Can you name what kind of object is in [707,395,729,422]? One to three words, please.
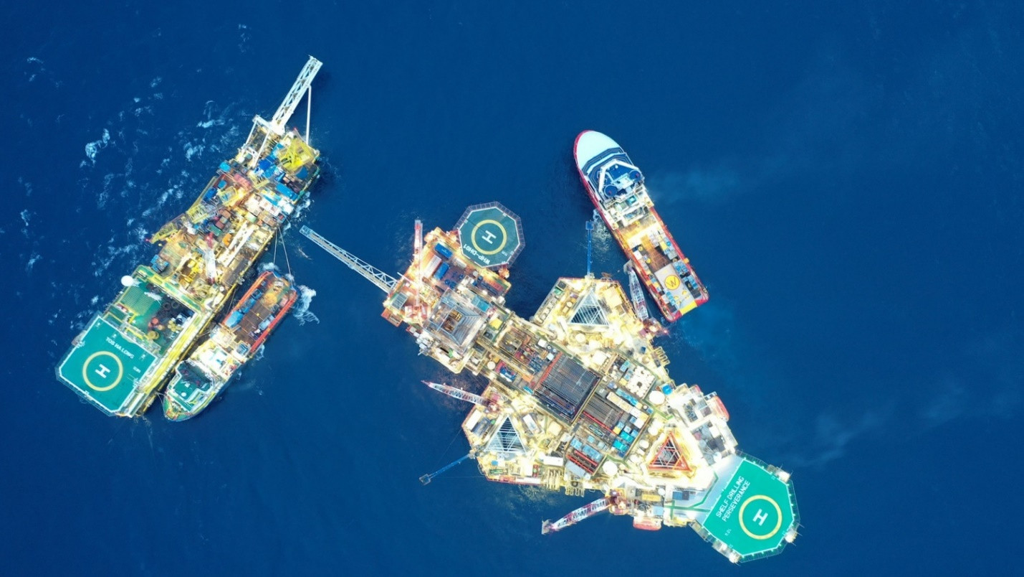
boat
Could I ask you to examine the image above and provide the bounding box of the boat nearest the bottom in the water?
[633,513,660,528]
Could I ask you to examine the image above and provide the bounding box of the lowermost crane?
[551,485,633,529]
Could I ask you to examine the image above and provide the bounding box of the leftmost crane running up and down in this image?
[199,233,217,284]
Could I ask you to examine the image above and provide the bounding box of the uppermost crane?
[279,127,317,172]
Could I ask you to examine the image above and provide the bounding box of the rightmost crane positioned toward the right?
[628,266,660,334]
